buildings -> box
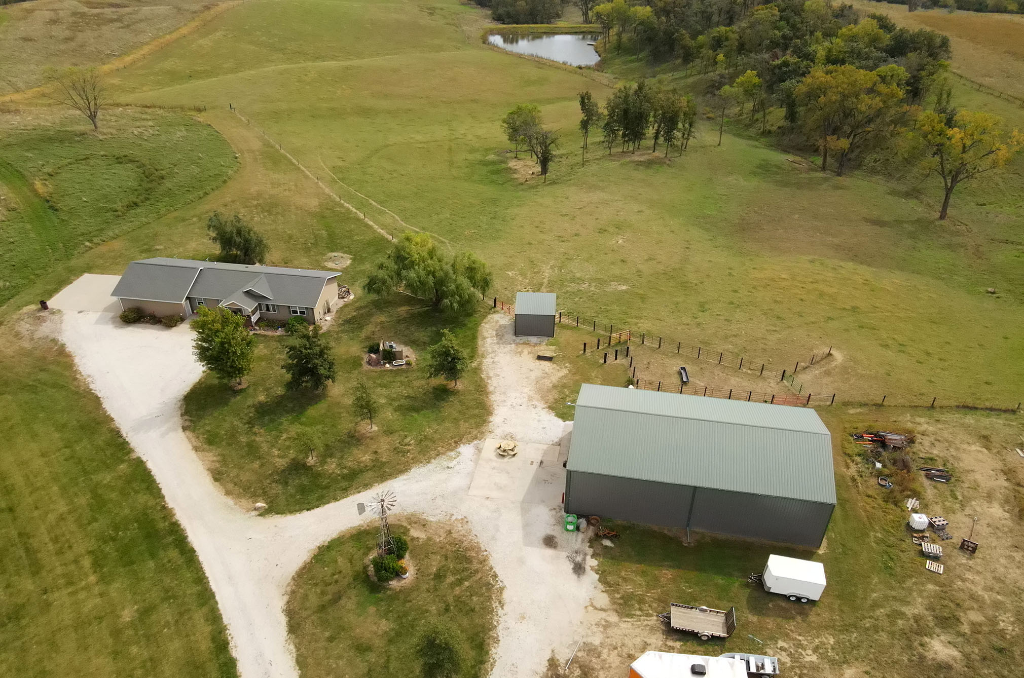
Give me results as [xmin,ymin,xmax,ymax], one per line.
[111,257,343,328]
[515,291,556,337]
[563,383,836,548]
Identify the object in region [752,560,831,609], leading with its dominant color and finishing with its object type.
white trailer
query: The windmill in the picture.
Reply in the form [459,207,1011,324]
[352,495,397,560]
